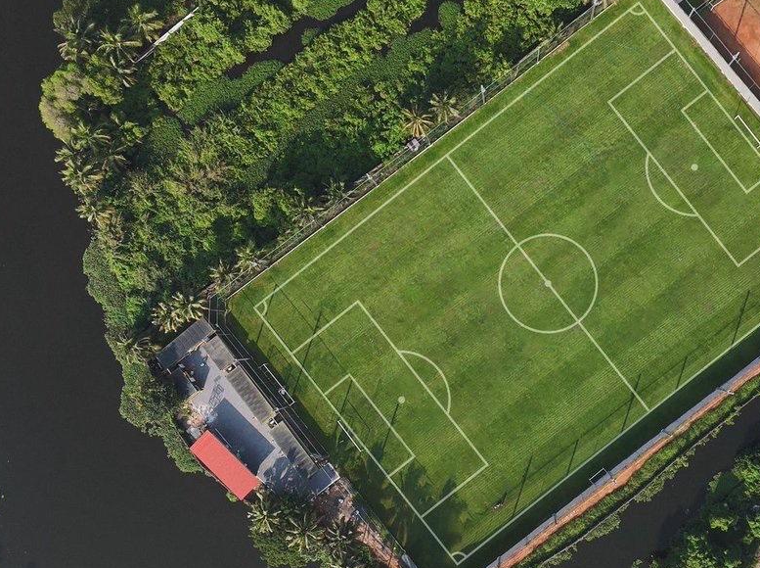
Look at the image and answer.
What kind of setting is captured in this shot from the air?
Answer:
sports ground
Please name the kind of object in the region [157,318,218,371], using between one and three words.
shed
